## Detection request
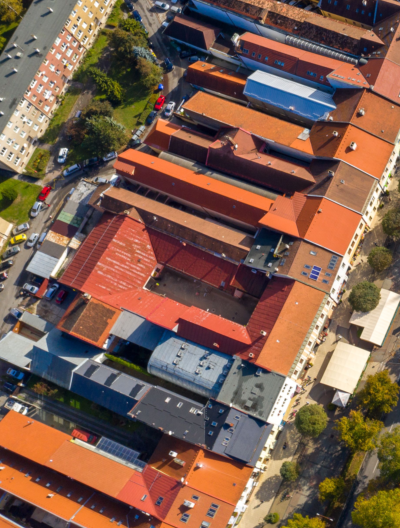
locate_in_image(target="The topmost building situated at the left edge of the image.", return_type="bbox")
[0,0,118,174]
